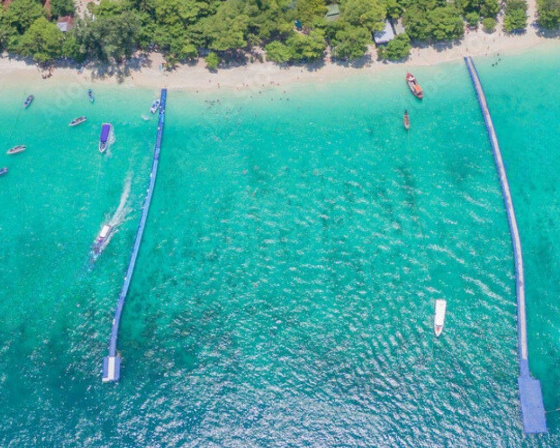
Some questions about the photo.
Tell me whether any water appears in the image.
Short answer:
Yes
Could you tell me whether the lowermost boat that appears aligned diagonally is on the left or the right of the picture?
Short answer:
left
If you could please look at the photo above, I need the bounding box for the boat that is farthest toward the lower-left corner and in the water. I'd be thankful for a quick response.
[94,221,114,252]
